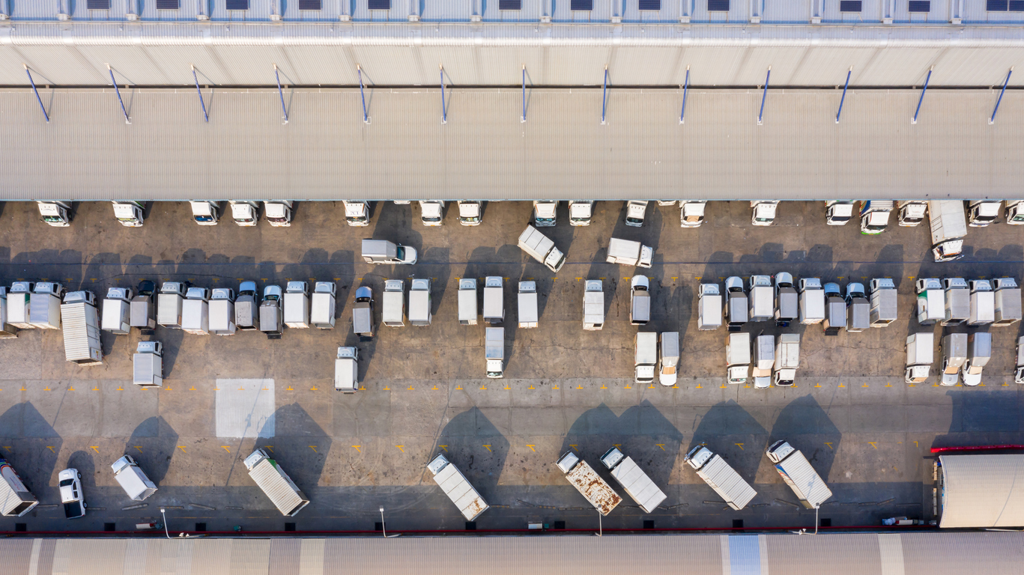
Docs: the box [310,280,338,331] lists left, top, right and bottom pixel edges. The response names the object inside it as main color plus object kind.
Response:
white truck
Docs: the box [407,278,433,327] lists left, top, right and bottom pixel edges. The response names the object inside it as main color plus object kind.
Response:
white truck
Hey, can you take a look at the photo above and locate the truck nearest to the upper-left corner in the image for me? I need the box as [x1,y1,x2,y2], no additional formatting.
[38,202,70,228]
